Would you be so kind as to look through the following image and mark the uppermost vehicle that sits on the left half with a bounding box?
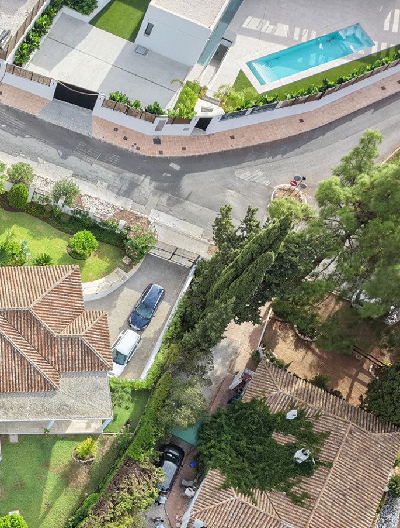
[129,280,165,327]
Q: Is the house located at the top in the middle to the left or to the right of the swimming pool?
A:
on its left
